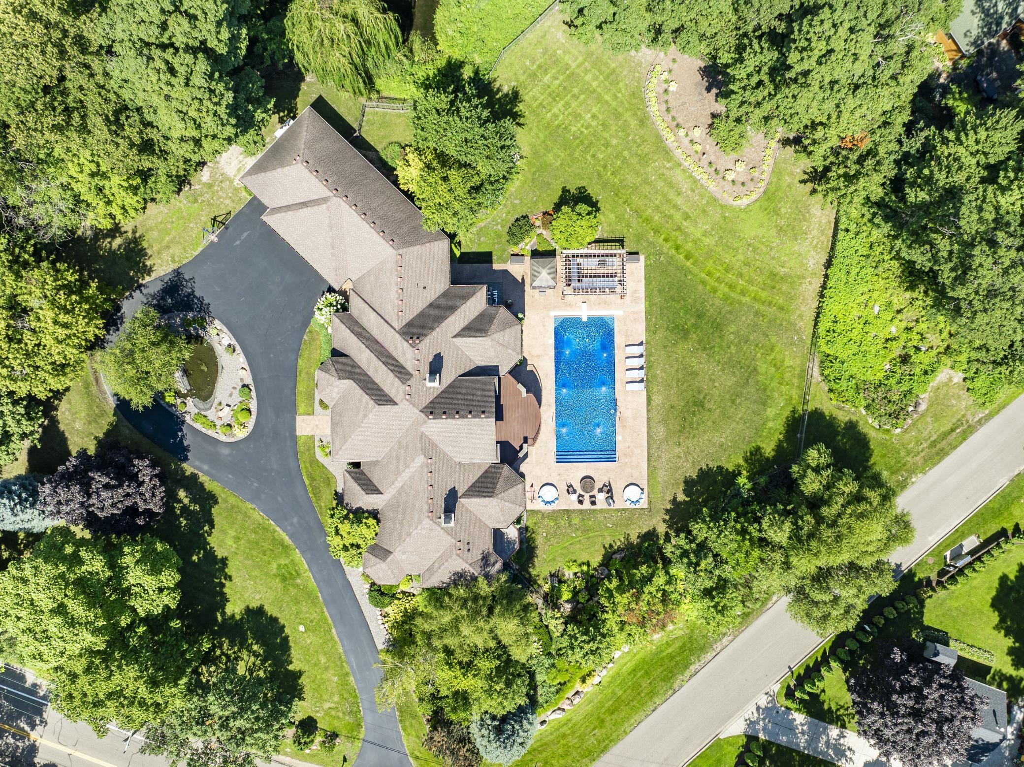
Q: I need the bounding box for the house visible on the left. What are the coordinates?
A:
[238,105,527,588]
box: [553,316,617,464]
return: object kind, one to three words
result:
swimming pool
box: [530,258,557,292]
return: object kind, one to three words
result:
gazebo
